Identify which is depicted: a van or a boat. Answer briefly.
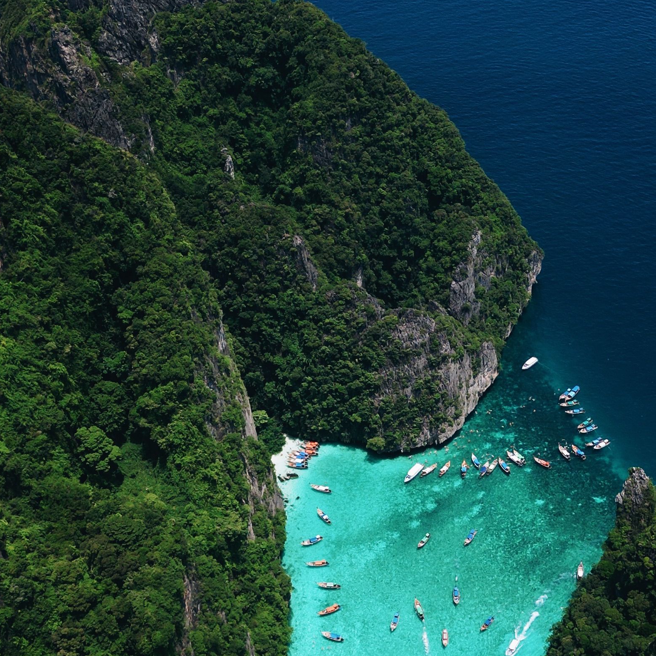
boat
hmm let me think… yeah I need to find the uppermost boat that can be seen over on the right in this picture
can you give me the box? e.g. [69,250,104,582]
[522,354,541,368]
